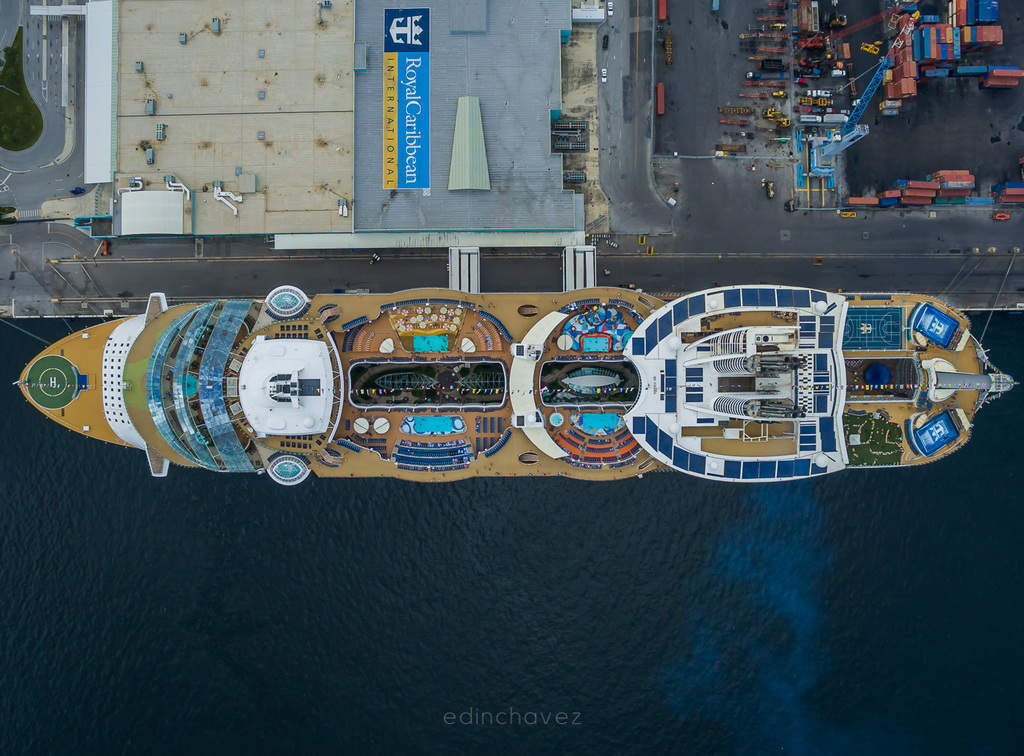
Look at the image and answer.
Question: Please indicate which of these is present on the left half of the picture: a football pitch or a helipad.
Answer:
helipad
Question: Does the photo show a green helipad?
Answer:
Yes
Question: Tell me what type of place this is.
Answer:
port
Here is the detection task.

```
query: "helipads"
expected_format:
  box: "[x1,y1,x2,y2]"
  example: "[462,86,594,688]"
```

[26,355,79,409]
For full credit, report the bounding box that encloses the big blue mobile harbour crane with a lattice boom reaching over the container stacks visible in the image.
[796,10,921,189]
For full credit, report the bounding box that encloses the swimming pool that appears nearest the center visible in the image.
[549,412,563,426]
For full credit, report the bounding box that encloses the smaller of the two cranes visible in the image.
[799,1,900,50]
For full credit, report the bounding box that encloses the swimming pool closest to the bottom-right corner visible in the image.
[570,411,628,435]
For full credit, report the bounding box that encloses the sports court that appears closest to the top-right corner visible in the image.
[841,305,918,358]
